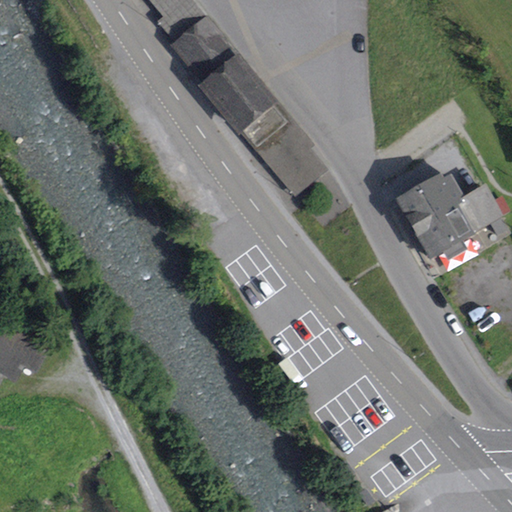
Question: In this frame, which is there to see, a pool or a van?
van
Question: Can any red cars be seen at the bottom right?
Yes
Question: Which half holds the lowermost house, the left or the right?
left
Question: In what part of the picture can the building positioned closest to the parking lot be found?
top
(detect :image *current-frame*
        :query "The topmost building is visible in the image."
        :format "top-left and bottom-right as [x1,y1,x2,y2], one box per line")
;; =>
[151,0,327,196]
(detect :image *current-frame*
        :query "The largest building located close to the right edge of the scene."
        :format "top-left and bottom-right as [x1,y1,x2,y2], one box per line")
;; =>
[398,173,505,259]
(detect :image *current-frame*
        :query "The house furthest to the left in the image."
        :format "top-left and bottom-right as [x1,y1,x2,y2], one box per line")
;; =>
[0,332,45,384]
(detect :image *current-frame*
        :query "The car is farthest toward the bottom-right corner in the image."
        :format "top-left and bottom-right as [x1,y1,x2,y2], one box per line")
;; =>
[394,456,412,477]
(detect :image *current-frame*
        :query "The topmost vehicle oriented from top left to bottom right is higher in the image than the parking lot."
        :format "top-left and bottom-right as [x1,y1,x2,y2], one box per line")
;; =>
[459,166,475,187]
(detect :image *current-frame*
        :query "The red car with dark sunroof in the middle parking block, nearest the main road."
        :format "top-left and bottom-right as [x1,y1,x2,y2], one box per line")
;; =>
[294,320,311,340]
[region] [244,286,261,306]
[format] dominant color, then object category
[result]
gray car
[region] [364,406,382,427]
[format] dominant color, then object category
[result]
red car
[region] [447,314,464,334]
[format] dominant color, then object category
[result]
white car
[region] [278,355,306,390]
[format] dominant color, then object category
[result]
white van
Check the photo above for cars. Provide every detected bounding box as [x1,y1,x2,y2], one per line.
[244,286,261,306]
[478,314,500,331]
[258,279,276,300]
[429,285,446,308]
[344,326,362,346]
[273,336,290,356]
[447,314,464,334]
[394,456,412,477]
[294,320,311,340]
[376,400,393,420]
[364,406,382,427]
[354,414,370,434]
[356,34,366,52]
[459,166,475,187]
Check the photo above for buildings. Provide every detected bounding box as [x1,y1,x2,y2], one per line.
[398,173,505,259]
[0,332,45,384]
[151,0,327,196]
